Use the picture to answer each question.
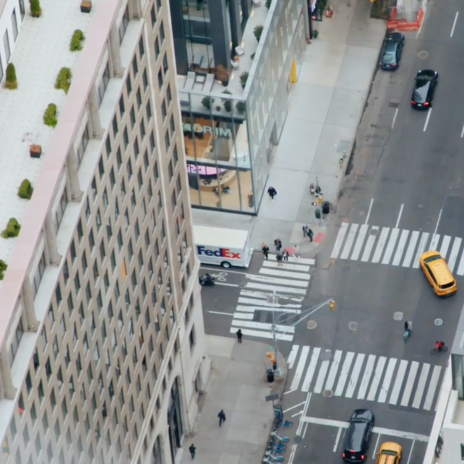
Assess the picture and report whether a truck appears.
Yes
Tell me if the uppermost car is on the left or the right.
right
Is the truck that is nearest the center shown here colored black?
No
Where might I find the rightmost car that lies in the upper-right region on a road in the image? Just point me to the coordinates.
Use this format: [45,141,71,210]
[411,64,442,107]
